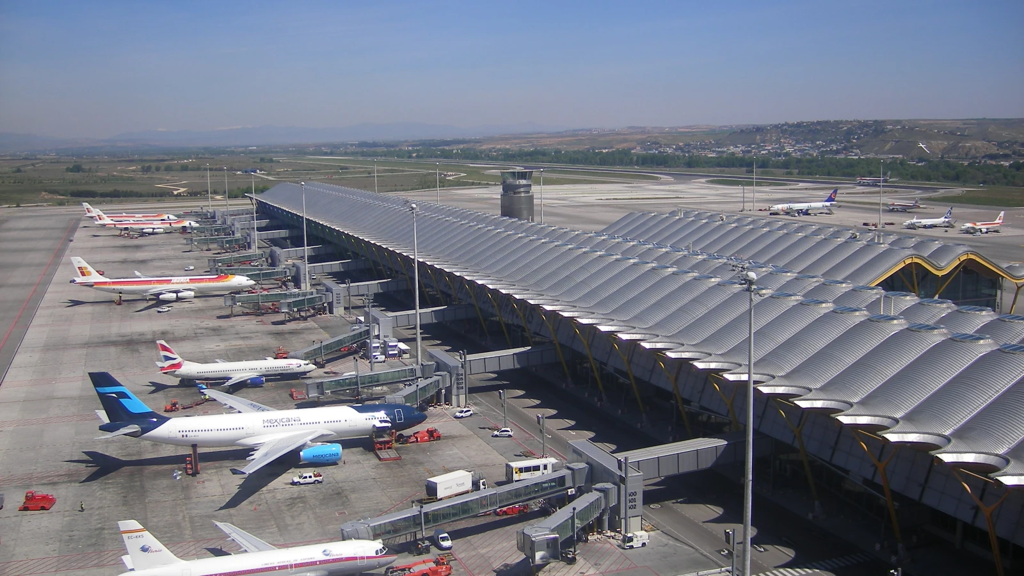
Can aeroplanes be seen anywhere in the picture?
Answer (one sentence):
Yes, the picture does show an aeroplane.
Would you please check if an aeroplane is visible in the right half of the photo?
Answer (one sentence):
Yes, in the right half of the photo there is an aeroplane.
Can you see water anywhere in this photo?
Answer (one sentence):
No, the scene doesn't show any water.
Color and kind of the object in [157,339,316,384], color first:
white airplane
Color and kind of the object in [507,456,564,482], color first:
white bus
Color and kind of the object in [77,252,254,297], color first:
white airplane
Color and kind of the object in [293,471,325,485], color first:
white vehicle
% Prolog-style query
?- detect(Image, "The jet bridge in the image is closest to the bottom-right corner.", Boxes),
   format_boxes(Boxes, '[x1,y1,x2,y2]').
[536,482,618,571]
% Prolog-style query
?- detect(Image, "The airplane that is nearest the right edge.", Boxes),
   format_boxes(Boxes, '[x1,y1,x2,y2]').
[960,210,1004,232]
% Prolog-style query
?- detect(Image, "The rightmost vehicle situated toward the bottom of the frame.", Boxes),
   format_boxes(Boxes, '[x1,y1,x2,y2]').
[618,527,653,551]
